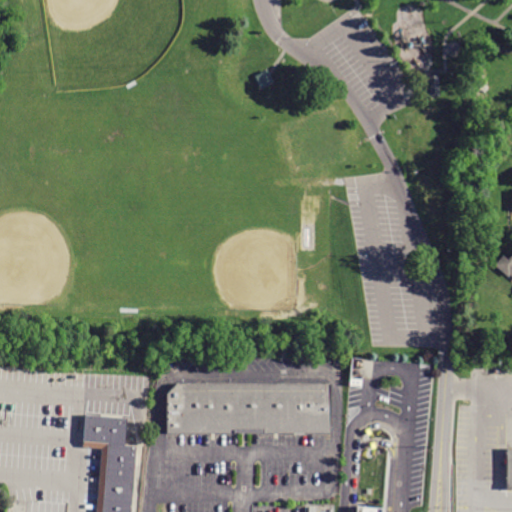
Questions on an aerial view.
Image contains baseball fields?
Yes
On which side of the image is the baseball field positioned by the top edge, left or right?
left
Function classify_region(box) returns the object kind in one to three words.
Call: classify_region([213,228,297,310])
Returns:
baseball field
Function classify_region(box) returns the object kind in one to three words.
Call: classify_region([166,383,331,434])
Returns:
building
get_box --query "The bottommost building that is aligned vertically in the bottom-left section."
[83,416,136,512]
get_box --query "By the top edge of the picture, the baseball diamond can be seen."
[46,0,118,32]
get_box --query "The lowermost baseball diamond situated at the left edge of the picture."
[0,210,70,304]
